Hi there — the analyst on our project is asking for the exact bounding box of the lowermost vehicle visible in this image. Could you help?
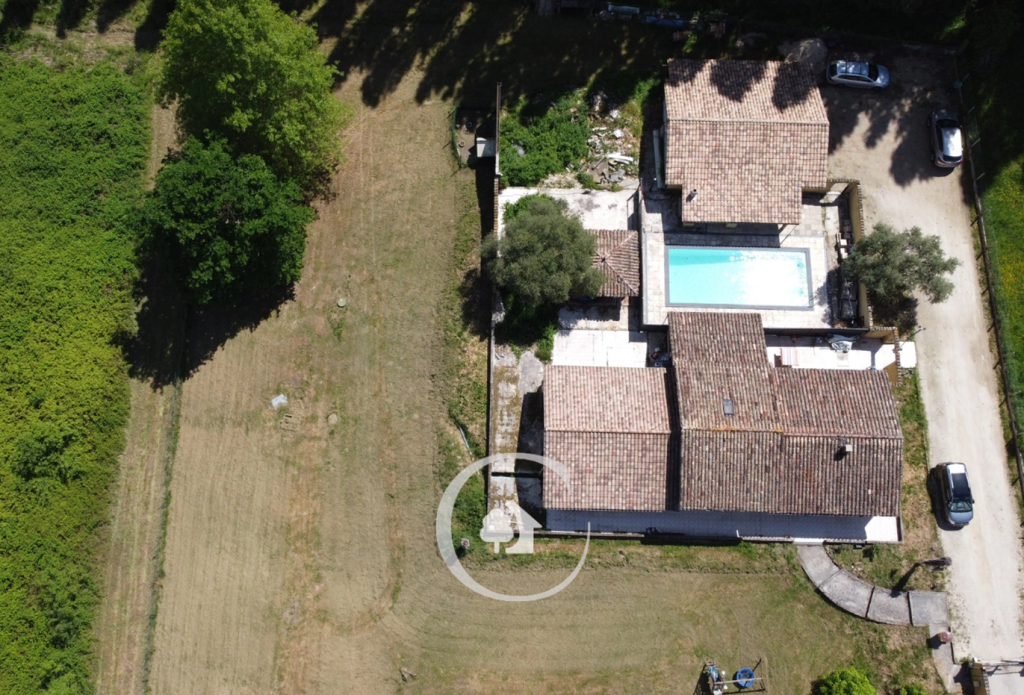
[929,462,973,528]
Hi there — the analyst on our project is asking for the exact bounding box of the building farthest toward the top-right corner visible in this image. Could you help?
[657,56,833,234]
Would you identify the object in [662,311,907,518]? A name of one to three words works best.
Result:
house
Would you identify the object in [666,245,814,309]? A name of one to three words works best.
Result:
swimming pool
